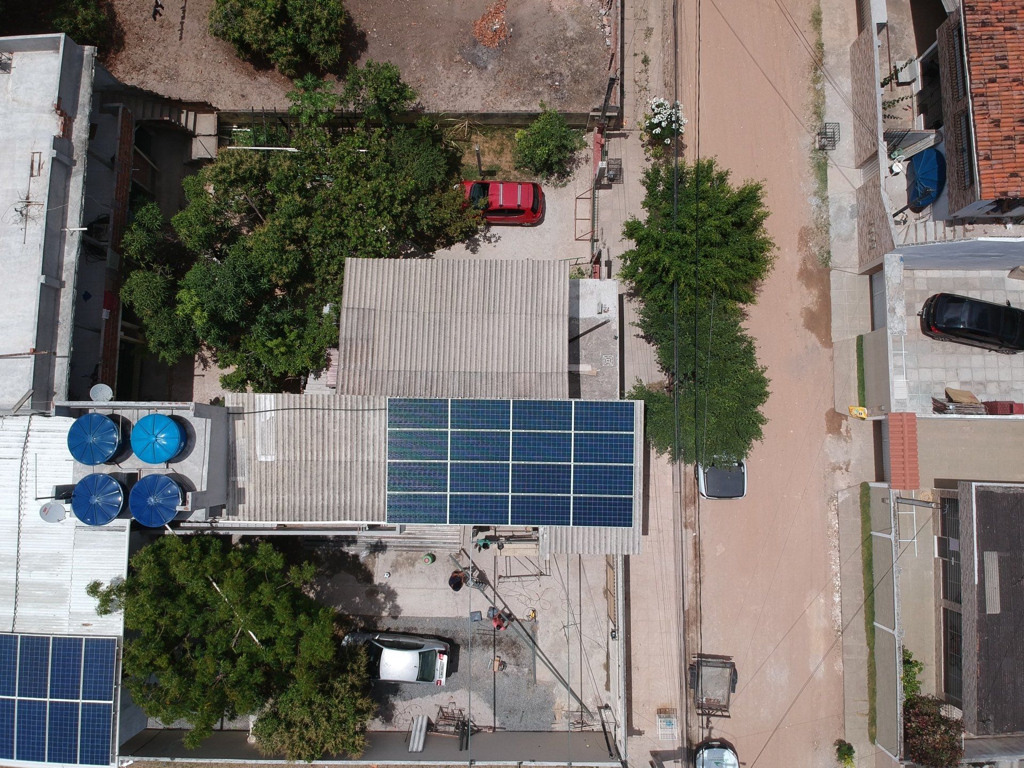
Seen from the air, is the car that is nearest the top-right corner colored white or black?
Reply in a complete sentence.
The car that is nearest the top-right corner looks black in the image.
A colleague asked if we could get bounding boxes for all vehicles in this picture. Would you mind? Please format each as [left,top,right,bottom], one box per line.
[918,293,1024,361]
[692,451,743,496]
[691,738,744,768]
[445,176,549,230]
[337,622,456,683]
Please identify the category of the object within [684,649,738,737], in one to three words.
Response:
trailer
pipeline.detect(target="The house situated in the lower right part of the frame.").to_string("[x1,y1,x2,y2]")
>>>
[918,479,1024,732]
